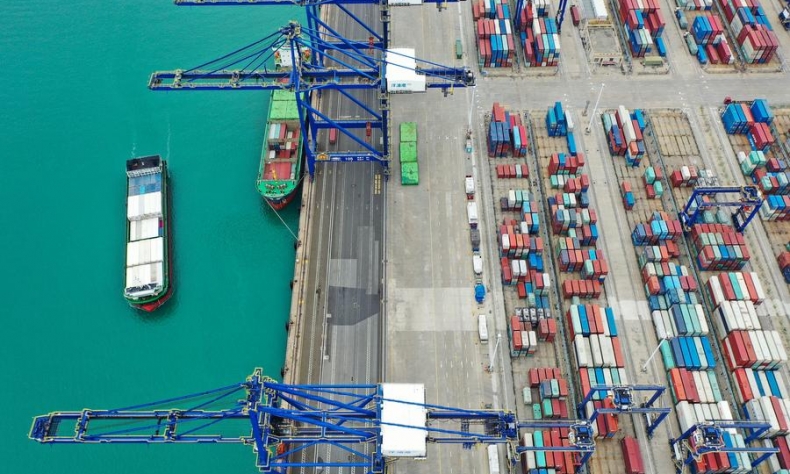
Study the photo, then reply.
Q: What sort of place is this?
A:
port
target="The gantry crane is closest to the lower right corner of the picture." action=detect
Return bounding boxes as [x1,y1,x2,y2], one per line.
[673,417,777,471]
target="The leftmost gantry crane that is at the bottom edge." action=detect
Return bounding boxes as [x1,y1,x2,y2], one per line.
[29,367,522,474]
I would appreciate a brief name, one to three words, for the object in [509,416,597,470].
container crane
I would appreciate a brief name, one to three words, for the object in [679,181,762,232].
container crane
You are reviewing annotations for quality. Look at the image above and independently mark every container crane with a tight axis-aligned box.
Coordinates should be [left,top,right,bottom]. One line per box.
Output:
[175,0,468,98]
[576,380,669,433]
[679,181,762,232]
[514,0,566,29]
[29,367,522,474]
[509,416,597,470]
[673,417,777,471]
[148,20,476,185]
